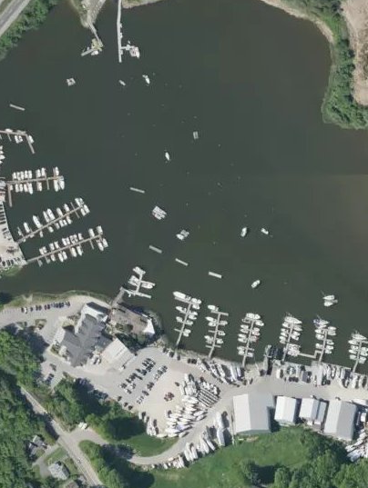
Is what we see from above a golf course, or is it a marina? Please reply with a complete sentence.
It's a marina.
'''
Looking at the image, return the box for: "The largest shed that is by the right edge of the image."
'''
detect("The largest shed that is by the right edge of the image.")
[323,402,356,441]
